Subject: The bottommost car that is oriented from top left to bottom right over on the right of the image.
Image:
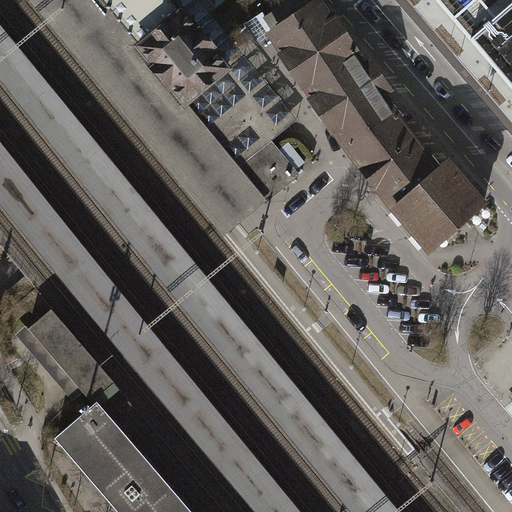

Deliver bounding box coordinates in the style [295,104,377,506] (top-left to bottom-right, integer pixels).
[346,310,364,332]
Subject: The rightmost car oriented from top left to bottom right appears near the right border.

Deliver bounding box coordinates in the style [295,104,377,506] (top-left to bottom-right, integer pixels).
[482,131,501,152]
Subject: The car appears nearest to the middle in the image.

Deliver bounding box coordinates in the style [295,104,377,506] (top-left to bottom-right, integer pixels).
[290,242,310,264]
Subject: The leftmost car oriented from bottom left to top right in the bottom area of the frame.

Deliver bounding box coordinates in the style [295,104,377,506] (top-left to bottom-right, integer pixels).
[454,416,474,434]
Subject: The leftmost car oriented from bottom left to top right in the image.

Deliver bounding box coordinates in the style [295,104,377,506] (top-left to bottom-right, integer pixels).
[284,194,306,214]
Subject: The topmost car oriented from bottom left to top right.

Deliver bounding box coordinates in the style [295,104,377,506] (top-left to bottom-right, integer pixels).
[309,173,330,192]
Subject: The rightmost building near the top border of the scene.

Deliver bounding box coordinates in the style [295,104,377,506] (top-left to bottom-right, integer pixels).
[438,0,512,91]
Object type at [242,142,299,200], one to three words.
building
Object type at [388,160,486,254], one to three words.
building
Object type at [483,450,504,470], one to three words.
car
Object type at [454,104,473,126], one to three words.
car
